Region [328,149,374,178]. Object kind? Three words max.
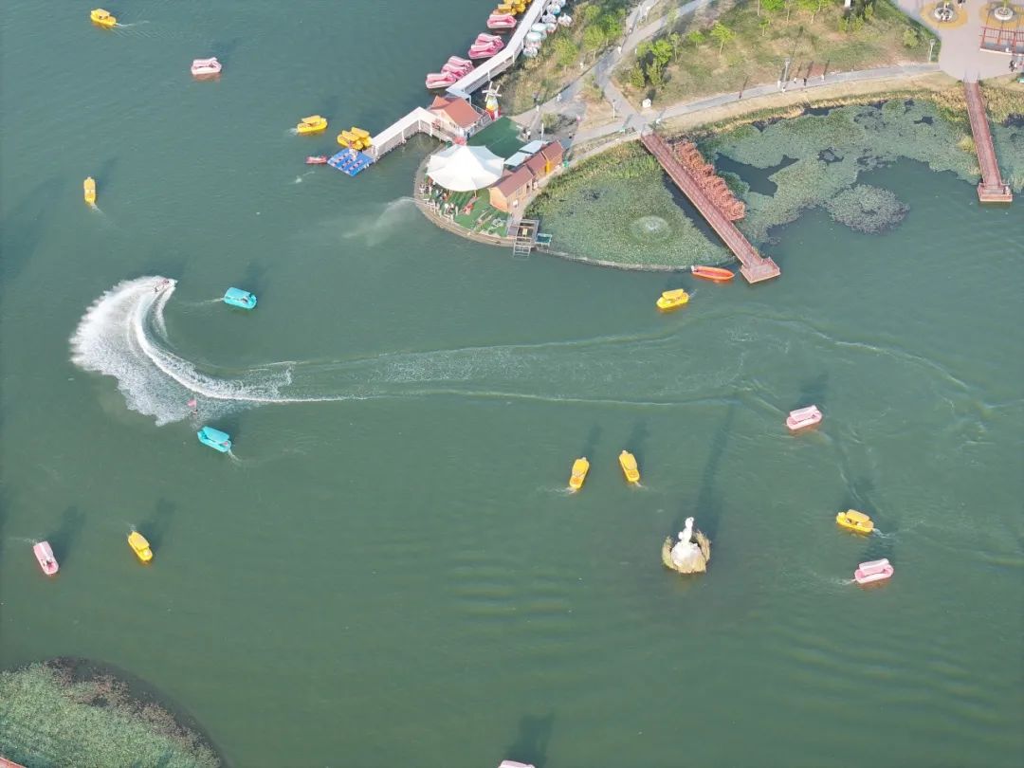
pier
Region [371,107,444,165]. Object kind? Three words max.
pier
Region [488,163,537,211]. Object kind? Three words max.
building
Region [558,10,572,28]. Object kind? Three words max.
boat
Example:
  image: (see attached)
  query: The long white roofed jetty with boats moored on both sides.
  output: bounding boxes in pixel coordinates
[447,0,557,98]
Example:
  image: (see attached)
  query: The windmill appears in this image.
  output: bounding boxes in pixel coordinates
[481,92,505,126]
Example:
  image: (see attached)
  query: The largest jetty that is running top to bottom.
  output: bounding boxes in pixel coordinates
[964,80,1014,209]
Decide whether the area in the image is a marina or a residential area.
marina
